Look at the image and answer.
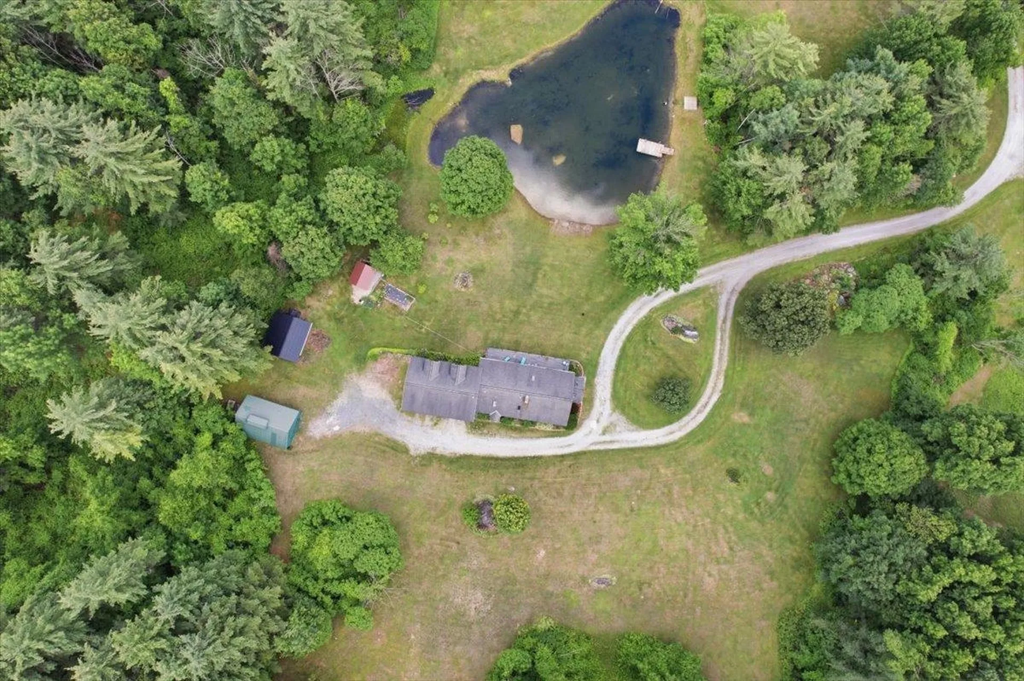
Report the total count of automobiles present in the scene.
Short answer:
0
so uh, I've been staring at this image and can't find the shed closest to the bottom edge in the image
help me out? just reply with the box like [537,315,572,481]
[236,394,303,449]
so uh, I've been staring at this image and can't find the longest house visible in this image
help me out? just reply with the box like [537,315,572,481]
[400,347,586,426]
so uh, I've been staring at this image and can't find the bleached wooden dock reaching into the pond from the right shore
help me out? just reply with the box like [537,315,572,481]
[637,138,665,157]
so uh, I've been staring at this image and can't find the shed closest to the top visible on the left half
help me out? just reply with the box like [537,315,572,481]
[349,262,382,291]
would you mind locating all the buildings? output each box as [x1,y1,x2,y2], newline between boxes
[349,262,382,291]
[236,394,303,449]
[400,347,586,426]
[265,311,317,362]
